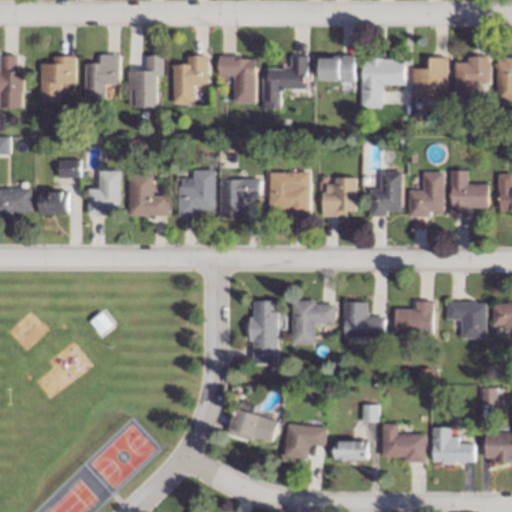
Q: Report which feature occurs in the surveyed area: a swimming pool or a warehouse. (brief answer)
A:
swimming pool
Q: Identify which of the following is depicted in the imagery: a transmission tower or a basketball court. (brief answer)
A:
basketball court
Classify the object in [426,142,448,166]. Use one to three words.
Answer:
swimming pool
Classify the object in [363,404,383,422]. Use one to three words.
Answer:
building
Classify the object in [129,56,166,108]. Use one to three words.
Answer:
house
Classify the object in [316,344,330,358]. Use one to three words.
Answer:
swimming pool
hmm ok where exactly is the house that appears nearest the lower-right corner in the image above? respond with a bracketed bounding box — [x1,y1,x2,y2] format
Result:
[483,435,512,465]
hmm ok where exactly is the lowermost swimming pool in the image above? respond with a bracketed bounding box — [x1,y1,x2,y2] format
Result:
[262,390,281,411]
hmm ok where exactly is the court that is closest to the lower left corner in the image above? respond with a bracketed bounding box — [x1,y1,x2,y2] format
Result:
[36,465,112,512]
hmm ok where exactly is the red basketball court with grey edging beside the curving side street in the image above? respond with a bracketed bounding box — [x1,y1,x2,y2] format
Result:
[85,418,161,497]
